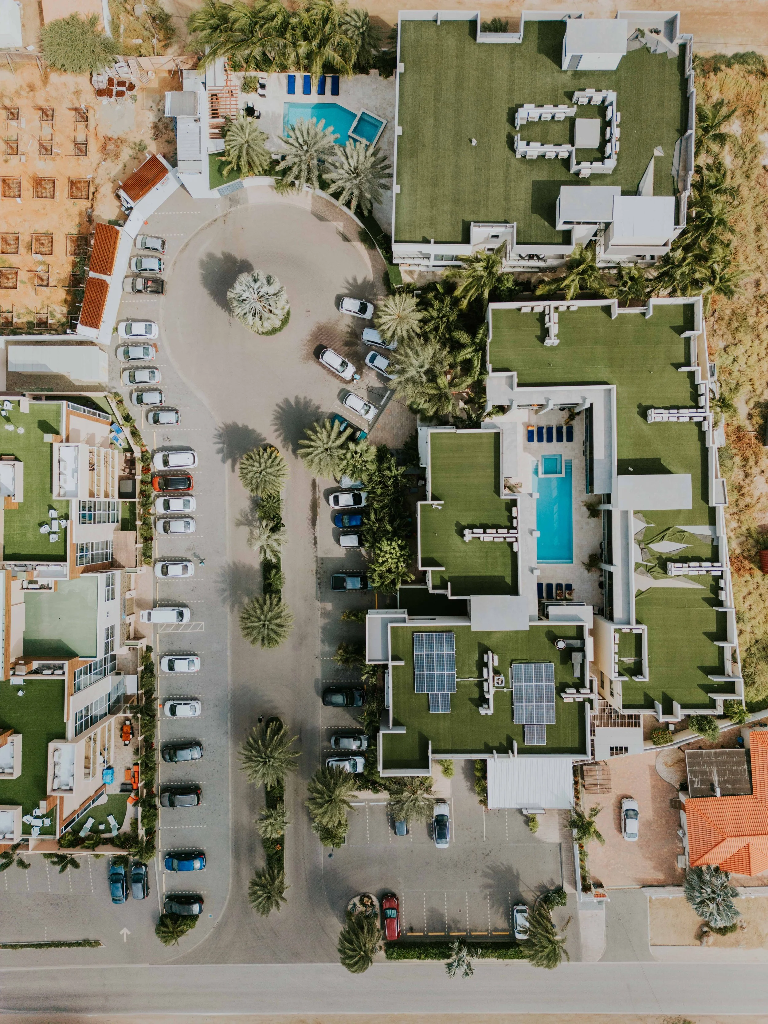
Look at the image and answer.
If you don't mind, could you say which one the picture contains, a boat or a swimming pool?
swimming pool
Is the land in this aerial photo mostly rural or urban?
urban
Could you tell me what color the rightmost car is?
white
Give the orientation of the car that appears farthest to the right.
up and down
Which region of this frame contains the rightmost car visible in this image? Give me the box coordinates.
[620,797,641,841]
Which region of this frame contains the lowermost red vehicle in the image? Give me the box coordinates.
[380,894,401,942]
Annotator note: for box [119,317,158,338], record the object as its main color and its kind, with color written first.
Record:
white car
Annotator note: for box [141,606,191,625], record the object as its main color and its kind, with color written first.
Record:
white vehicle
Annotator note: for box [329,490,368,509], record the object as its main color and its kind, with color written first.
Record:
white car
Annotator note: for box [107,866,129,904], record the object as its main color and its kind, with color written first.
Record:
blue car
